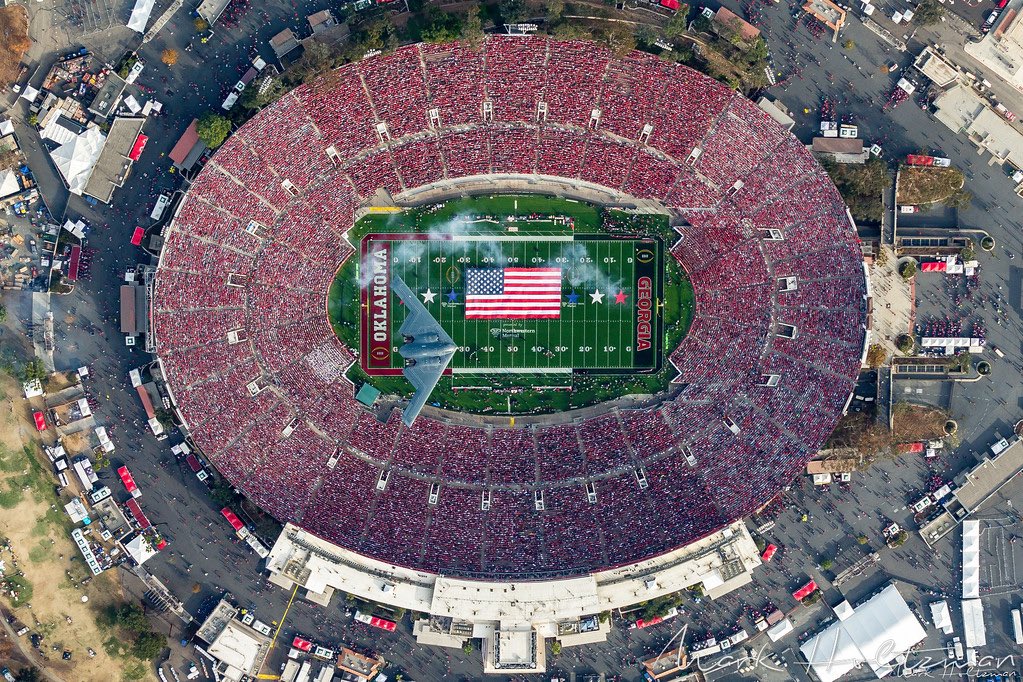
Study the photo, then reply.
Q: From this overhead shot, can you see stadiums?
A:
Yes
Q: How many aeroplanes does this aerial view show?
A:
1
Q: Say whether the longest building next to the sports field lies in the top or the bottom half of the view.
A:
bottom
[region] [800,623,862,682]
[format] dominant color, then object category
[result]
white tent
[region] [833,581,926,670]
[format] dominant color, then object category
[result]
white tent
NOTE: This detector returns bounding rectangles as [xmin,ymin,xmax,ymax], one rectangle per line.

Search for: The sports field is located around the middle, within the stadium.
[328,194,693,414]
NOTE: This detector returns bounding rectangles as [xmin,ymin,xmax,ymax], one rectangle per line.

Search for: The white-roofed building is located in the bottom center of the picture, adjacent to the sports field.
[266,517,762,673]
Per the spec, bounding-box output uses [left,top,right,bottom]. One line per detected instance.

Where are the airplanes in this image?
[392,275,459,427]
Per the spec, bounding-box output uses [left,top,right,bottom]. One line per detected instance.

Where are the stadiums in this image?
[150,35,870,575]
